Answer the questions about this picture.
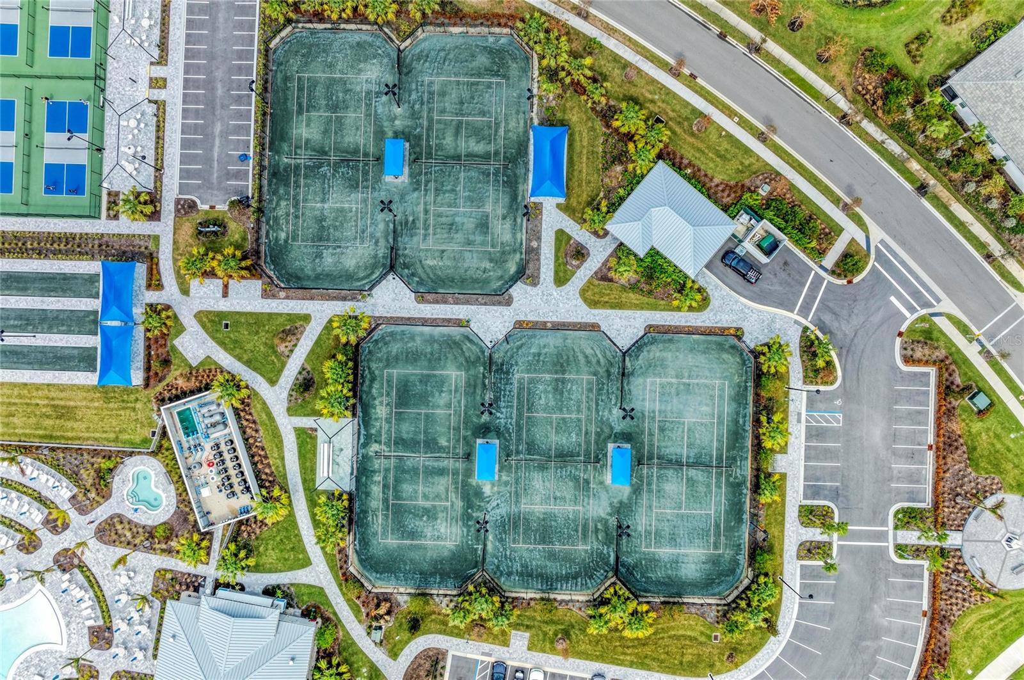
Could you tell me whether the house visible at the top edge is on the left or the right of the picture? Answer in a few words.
right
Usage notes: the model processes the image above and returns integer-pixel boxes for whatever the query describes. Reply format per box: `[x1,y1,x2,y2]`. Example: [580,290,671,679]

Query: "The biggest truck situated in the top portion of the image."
[721,247,763,285]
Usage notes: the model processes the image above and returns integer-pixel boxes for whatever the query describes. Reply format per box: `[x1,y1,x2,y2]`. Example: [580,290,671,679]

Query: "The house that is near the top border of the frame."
[940,20,1024,194]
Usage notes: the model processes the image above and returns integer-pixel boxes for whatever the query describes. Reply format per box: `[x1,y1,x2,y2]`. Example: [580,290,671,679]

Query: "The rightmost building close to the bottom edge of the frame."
[152,584,317,680]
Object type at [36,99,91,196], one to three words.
sports court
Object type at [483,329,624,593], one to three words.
tennis court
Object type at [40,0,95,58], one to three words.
sports court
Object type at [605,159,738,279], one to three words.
building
